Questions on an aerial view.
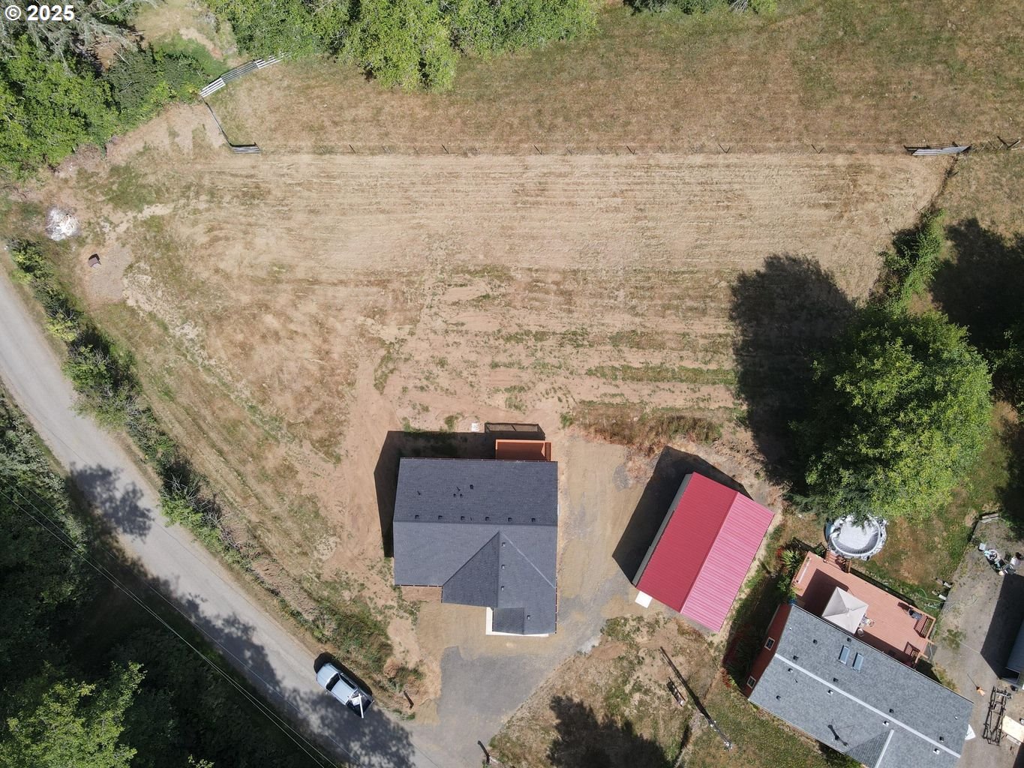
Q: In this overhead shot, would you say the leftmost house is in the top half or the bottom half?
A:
bottom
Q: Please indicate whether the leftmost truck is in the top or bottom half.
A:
bottom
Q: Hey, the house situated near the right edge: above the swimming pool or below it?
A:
below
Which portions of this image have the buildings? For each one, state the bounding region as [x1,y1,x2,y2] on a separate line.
[630,470,777,629]
[394,457,557,638]
[738,600,975,768]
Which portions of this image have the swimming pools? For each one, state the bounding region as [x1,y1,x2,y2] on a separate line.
[821,501,888,572]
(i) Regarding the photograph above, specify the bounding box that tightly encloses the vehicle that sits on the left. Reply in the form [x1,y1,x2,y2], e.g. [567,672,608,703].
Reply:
[319,662,376,718]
